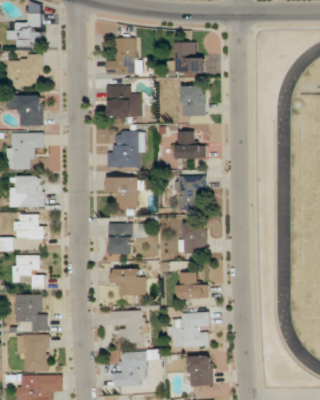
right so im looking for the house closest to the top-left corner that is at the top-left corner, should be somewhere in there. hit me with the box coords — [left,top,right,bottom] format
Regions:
[6,0,41,48]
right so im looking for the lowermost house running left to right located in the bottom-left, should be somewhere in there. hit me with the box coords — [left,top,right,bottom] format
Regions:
[5,374,62,400]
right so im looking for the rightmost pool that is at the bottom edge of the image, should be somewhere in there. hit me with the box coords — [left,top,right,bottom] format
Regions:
[172,374,184,396]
